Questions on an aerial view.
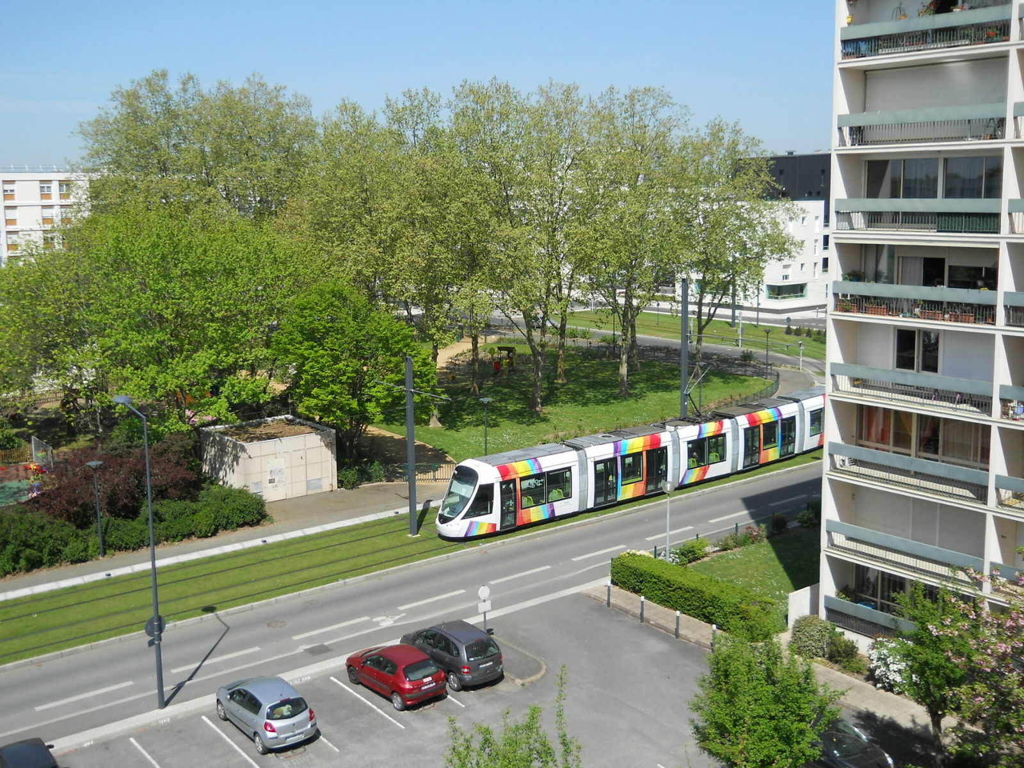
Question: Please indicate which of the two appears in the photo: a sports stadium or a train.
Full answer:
Looking from above, you can make out a train.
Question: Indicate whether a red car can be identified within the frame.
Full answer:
Yes, I can see a red car in this picture.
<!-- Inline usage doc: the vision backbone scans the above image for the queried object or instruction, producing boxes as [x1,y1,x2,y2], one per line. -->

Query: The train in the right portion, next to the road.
[430,365,826,543]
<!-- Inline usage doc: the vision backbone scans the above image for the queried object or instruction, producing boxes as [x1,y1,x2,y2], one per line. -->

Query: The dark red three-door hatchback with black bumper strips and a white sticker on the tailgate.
[350,641,453,710]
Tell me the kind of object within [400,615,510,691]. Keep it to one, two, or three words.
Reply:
car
